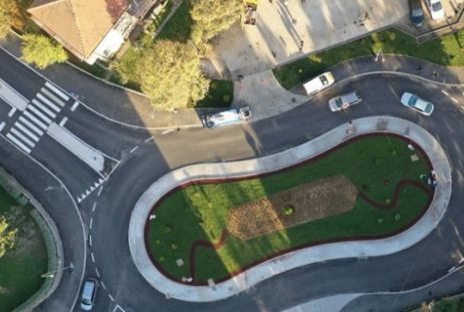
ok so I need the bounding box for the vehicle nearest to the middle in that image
[201,102,254,131]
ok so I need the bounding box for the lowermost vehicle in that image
[79,276,100,312]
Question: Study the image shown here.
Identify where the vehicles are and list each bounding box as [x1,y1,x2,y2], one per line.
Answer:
[300,69,337,95]
[201,102,254,131]
[407,0,425,28]
[79,276,100,312]
[327,91,362,113]
[399,92,435,117]
[425,0,444,23]
[243,0,262,26]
